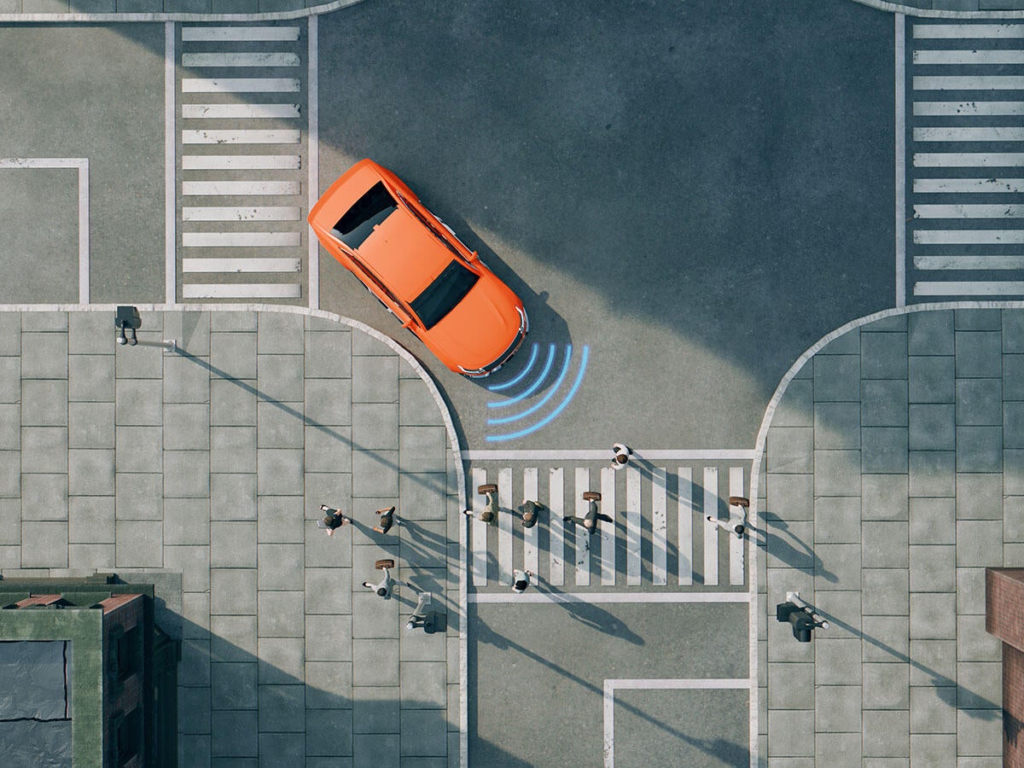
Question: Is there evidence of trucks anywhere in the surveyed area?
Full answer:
No, no truck is visible in the scene.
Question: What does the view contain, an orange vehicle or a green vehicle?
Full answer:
I can see an orange vehicle in this picture.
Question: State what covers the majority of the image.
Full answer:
The scene is dominated by paved ground.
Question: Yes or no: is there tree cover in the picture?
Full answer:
No, there is no tree cover in the image.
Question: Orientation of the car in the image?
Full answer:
The car has been laid out on a diagonal relative to the frame.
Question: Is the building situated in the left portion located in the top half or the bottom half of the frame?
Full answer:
The building situated in the left portion is in the bottom half of the image.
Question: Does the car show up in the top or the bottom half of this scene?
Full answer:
It is in the top half that the car appears.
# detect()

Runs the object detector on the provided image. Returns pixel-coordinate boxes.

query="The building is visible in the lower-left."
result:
[0,570,178,768]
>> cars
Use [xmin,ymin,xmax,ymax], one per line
[308,157,534,380]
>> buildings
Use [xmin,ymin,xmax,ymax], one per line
[0,570,178,768]
[986,630,1024,768]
